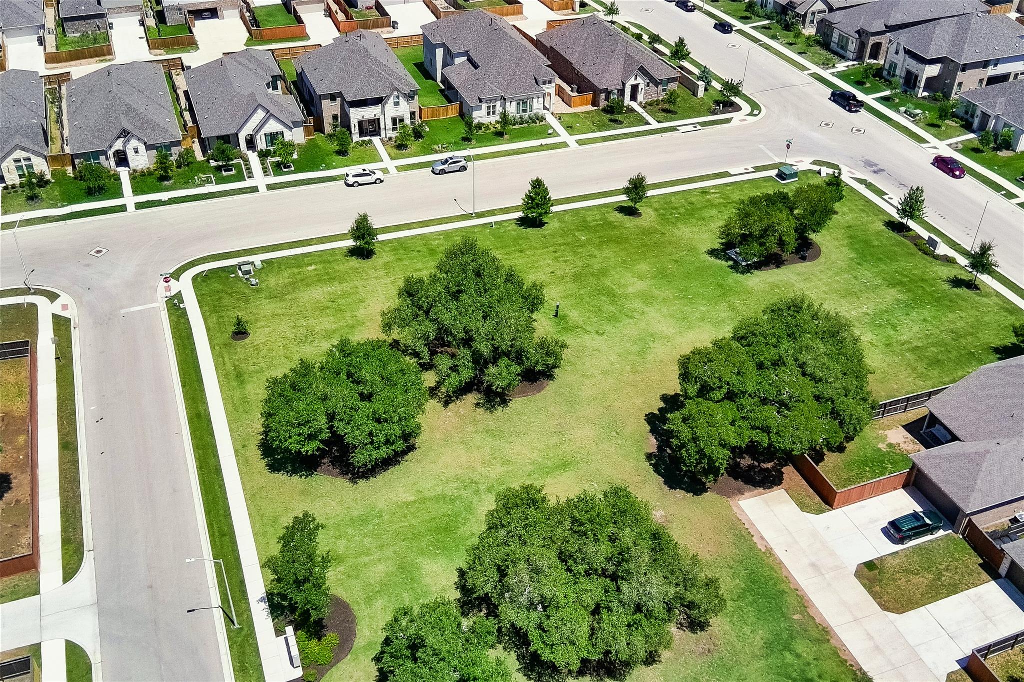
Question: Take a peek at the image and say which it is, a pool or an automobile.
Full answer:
I can see an automobile in this picture.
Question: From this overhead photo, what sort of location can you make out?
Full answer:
The area seen from above is a residential area.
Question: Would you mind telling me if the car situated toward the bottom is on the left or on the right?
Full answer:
The car situated toward the bottom is on the right side of the image.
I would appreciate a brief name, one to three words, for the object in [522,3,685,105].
house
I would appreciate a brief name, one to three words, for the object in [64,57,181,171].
house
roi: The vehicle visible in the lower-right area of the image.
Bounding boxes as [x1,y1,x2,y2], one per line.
[885,512,943,548]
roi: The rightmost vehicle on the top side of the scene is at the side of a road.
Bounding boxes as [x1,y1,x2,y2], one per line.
[931,152,967,176]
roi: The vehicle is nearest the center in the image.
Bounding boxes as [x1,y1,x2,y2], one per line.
[431,154,471,175]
